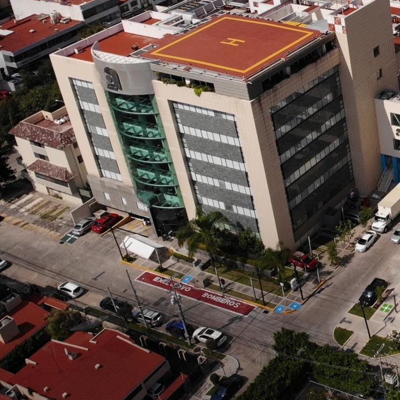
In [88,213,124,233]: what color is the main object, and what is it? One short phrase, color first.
red car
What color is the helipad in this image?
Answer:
red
